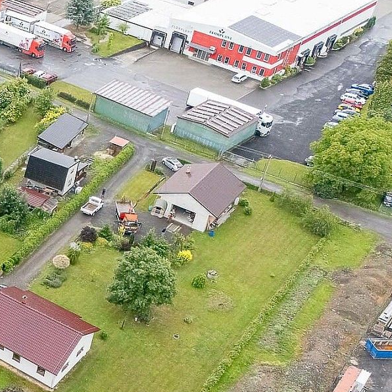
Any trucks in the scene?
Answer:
Yes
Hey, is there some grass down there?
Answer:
Yes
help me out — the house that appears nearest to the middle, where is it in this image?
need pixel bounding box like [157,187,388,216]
[154,163,247,229]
